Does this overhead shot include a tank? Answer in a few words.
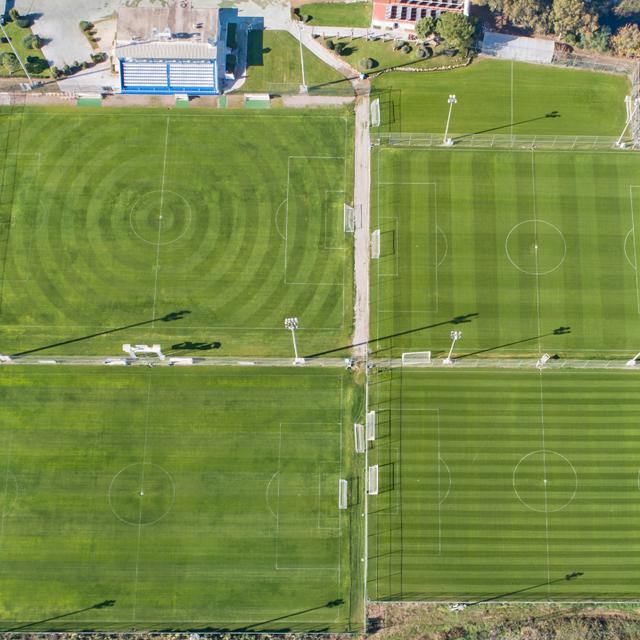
No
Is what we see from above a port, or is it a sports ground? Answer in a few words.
sports ground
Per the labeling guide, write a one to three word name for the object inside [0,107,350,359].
soccer field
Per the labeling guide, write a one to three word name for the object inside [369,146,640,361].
soccer field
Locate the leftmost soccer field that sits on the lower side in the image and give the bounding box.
[0,367,365,636]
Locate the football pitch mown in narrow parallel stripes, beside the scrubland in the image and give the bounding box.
[368,369,640,601]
